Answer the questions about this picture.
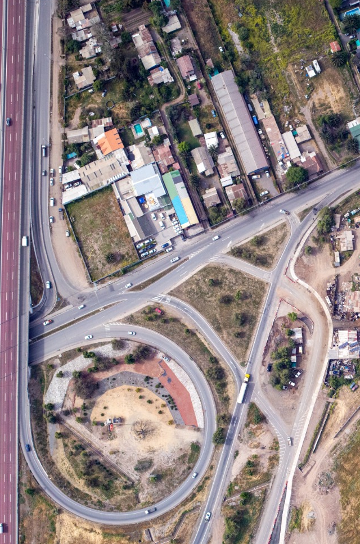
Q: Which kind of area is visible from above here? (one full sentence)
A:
This looks like a residential area.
